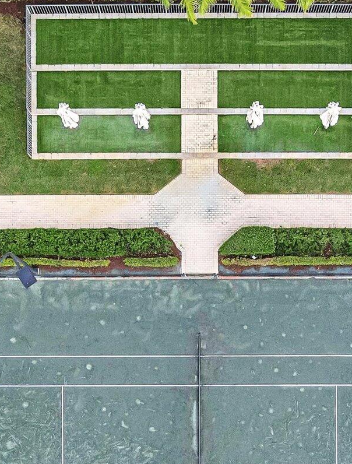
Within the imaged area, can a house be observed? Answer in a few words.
No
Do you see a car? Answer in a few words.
No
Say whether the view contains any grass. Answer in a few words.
Yes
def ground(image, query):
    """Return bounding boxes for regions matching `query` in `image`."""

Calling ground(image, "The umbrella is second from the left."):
[133,100,152,129]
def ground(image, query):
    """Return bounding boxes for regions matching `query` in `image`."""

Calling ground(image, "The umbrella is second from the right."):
[246,100,267,132]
